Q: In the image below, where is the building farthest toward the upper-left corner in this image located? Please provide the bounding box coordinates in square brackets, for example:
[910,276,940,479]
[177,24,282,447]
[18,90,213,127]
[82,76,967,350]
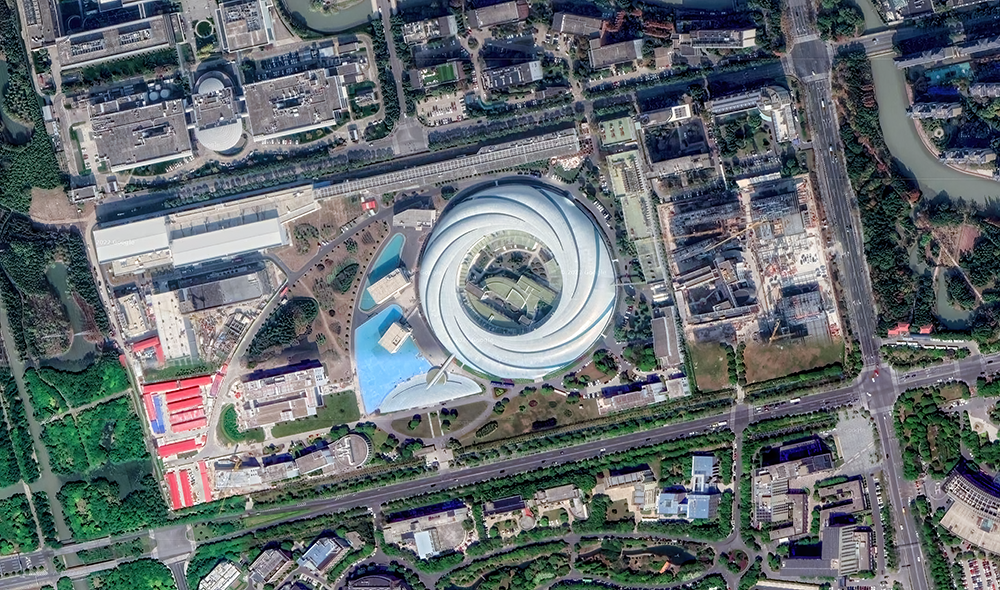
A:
[24,0,56,54]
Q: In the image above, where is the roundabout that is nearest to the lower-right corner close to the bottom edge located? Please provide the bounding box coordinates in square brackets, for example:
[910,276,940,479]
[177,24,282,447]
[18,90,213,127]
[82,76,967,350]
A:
[719,541,758,579]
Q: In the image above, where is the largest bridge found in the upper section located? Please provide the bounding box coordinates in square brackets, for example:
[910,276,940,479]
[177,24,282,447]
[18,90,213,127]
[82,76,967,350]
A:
[861,25,898,51]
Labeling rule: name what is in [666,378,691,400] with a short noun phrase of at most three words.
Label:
building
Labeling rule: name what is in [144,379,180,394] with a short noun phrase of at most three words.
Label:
house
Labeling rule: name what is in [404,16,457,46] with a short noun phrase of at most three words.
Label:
building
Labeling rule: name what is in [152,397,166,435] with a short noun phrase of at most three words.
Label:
shed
